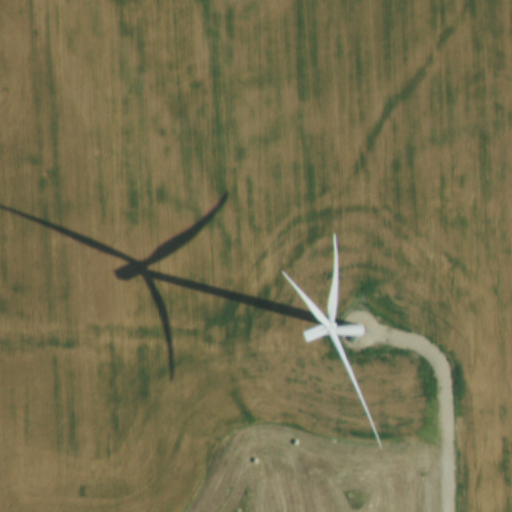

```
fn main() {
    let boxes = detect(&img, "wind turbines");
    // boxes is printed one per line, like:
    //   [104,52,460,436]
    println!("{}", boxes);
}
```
[280,233,380,448]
